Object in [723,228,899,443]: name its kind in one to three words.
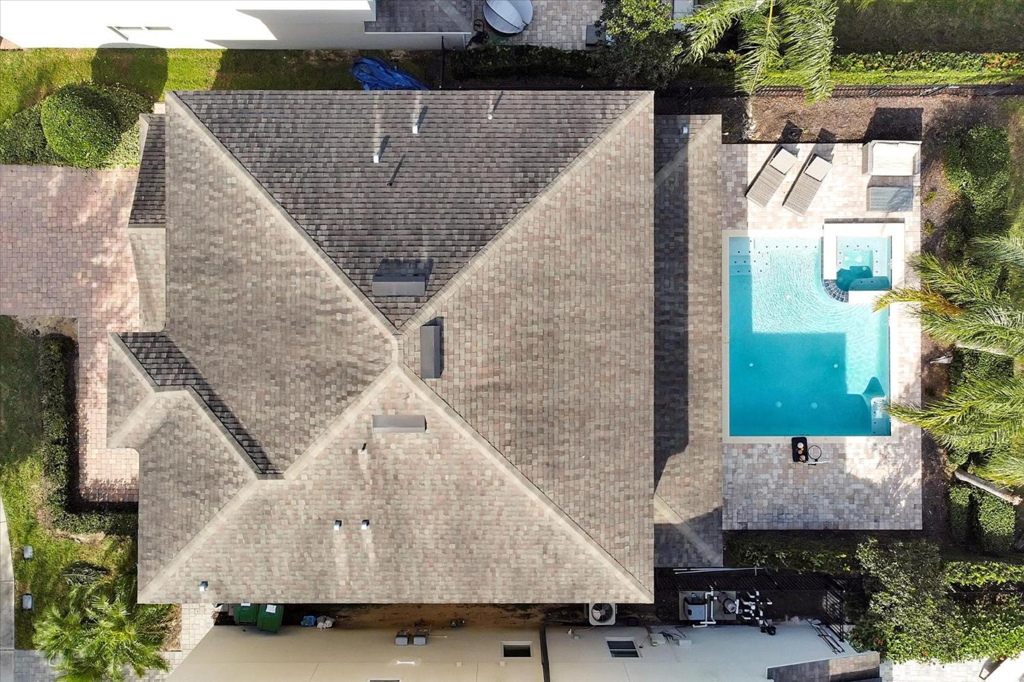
swimming pool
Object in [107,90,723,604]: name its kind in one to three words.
house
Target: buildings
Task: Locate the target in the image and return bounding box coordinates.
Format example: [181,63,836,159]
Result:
[0,0,474,49]
[107,90,723,604]
[157,621,888,682]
